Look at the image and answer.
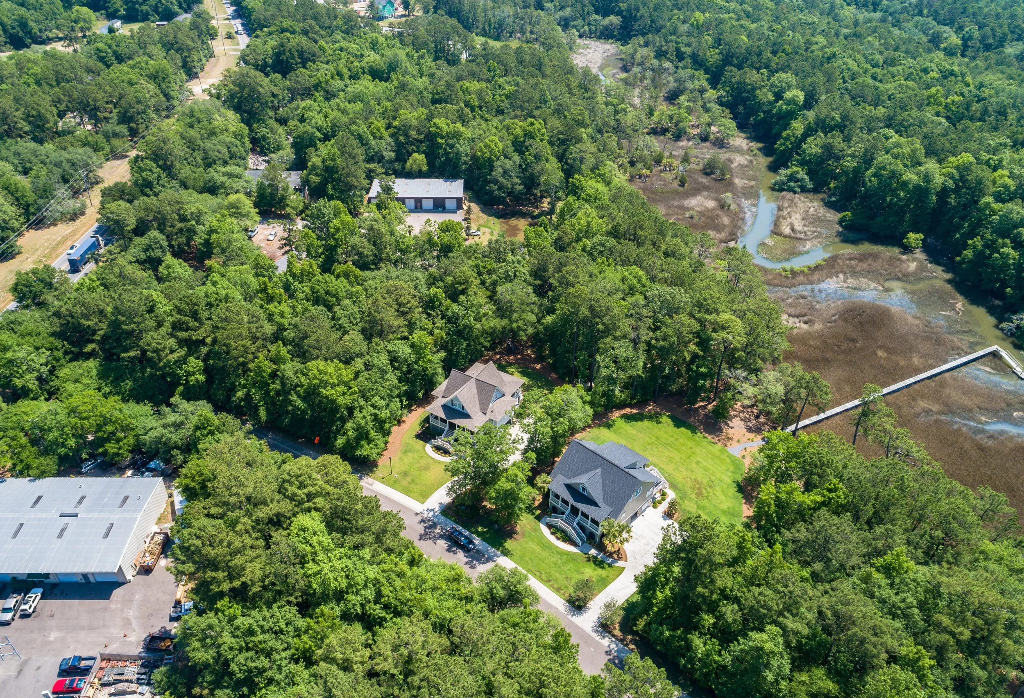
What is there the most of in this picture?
trees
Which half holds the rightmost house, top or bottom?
bottom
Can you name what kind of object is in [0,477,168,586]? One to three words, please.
building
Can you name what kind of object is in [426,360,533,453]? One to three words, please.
house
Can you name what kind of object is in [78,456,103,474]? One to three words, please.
car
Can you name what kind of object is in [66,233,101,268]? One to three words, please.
trailer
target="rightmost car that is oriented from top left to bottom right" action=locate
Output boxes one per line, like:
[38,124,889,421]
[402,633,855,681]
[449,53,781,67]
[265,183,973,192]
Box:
[447,522,477,549]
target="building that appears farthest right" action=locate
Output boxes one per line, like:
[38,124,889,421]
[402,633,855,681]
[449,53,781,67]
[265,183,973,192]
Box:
[547,440,669,546]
